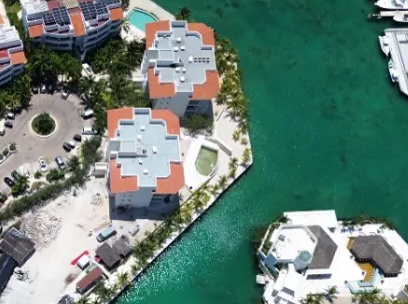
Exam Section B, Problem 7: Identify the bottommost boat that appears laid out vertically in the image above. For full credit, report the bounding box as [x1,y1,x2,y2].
[387,57,401,84]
